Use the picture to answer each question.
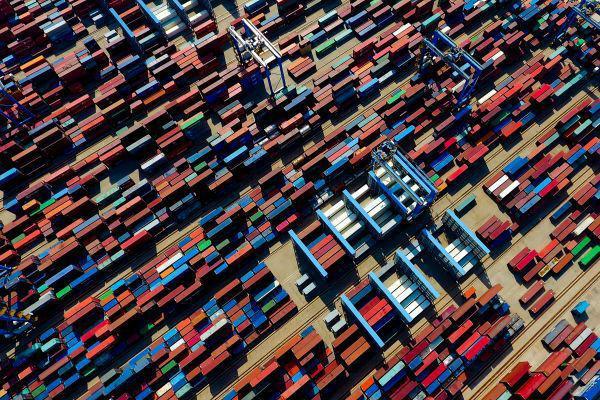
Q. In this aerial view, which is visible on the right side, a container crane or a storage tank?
container crane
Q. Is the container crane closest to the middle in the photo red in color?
No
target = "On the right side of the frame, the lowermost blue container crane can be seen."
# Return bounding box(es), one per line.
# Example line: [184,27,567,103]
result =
[367,139,442,224]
